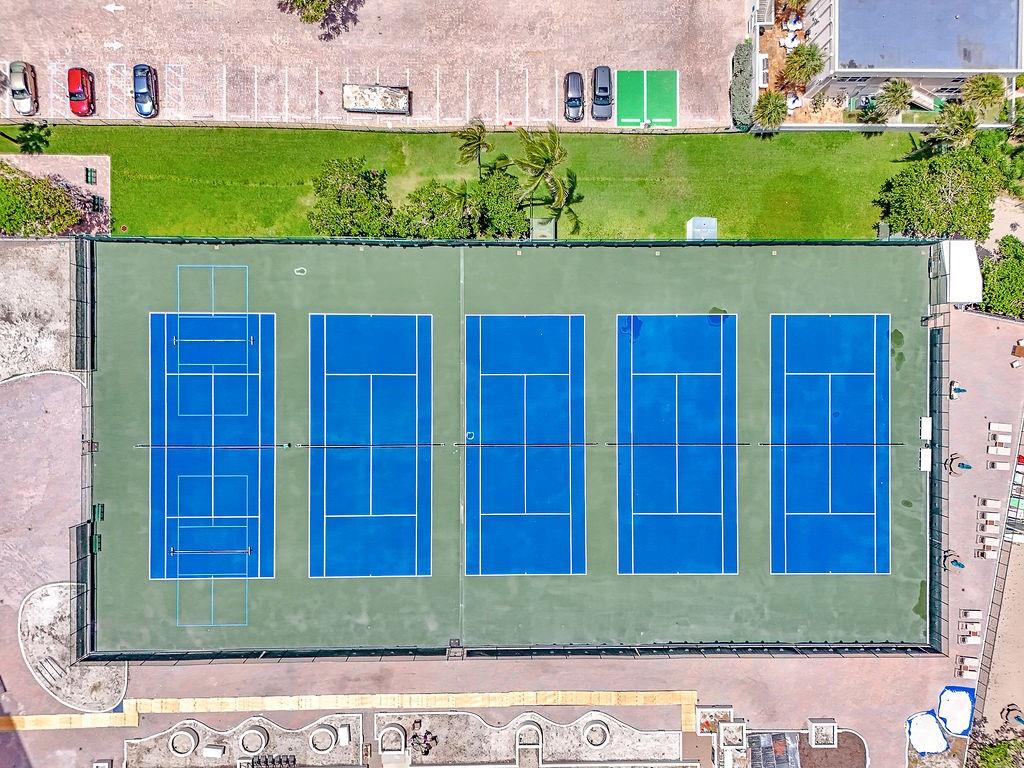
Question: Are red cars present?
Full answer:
Yes, the frame does contain a red car.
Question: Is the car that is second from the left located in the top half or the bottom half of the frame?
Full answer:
The top half of the photo is where the car that is second from the left is.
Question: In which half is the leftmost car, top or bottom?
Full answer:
The leftmost car is in the top half of the image.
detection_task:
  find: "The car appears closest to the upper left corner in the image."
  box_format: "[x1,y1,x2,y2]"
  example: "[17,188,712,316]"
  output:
[7,59,37,115]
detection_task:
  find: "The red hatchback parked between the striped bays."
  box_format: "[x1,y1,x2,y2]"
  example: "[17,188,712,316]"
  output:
[66,65,95,116]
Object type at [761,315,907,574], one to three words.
tennis court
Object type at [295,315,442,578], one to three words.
tennis court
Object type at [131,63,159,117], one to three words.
car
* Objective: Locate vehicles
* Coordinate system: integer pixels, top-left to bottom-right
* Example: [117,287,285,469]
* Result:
[7,59,37,115]
[563,70,586,123]
[131,63,159,117]
[66,65,95,116]
[591,65,615,121]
